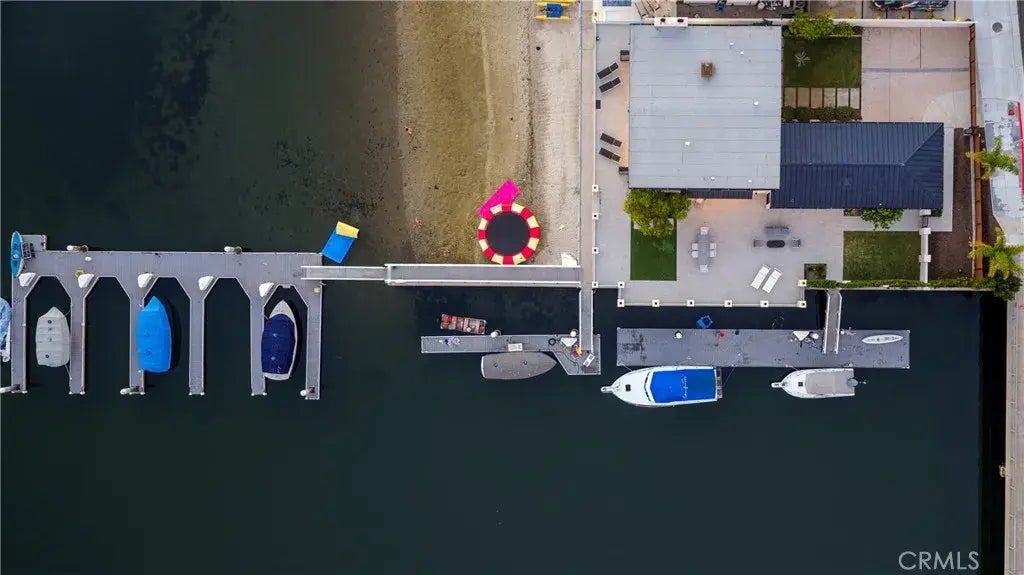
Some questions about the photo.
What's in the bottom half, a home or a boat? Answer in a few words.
boat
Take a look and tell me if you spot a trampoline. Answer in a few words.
Yes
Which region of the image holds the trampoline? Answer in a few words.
center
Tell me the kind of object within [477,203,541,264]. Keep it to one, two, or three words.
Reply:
trampoline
